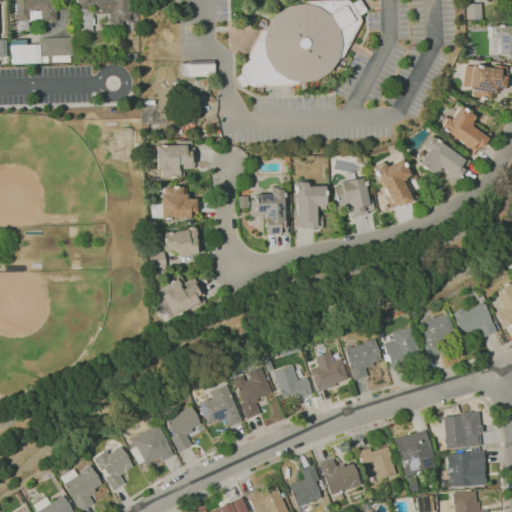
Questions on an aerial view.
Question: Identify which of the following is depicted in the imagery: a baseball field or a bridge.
baseball field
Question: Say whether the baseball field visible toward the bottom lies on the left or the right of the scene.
left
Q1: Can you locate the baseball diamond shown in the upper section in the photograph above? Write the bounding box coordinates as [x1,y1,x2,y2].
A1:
[0,113,107,226]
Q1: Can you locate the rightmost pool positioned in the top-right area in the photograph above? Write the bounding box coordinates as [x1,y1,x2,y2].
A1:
[410,129,430,150]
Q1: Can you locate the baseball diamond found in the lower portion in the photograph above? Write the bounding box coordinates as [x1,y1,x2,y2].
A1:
[0,270,110,400]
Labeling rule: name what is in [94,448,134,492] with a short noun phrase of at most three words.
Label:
house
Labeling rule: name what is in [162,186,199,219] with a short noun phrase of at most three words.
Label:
house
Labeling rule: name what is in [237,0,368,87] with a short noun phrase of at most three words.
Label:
building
